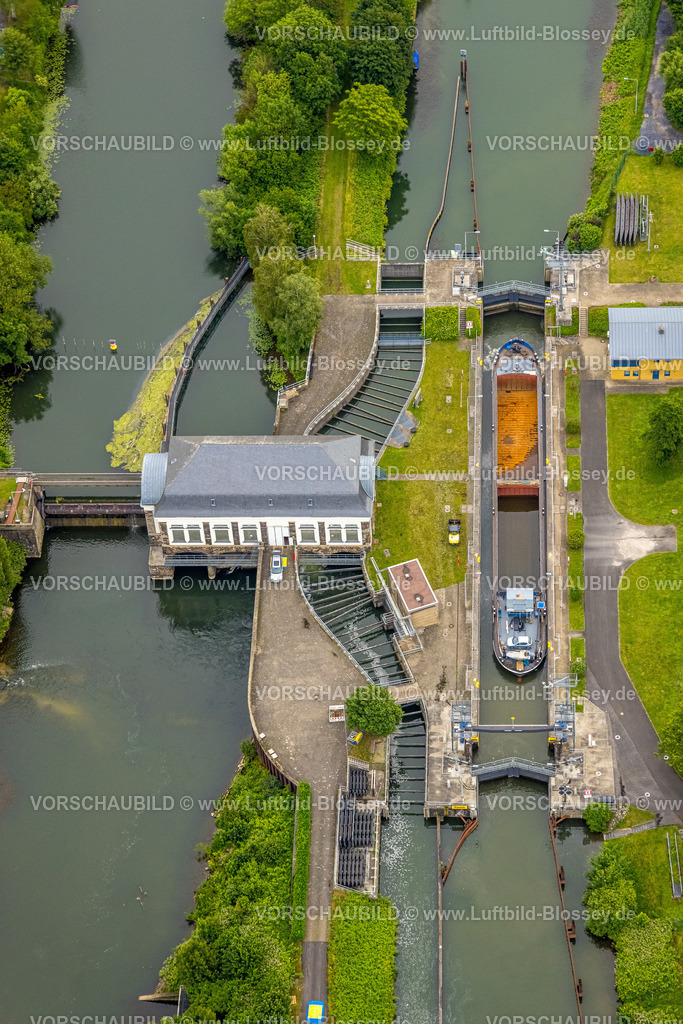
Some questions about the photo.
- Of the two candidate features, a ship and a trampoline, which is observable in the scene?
ship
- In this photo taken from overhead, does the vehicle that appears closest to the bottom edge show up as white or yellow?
yellow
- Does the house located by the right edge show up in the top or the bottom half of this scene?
top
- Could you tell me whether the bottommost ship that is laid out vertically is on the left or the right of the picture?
right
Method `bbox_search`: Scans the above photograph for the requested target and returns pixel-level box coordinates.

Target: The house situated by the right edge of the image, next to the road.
[607,308,683,380]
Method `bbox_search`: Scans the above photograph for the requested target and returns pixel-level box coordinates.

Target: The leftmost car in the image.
[271,558,283,581]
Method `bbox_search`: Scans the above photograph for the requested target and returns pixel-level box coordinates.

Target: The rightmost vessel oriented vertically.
[491,338,548,684]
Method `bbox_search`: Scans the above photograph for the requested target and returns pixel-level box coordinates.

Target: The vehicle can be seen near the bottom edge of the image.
[305,1002,326,1024]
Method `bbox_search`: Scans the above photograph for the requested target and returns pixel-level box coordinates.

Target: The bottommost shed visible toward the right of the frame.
[387,558,438,628]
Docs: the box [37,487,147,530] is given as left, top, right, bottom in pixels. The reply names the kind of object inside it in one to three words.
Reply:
dam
